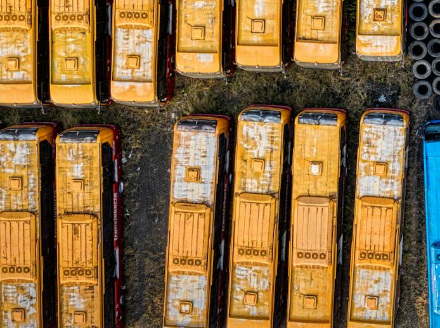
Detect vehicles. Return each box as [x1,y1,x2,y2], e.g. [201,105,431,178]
[288,102,348,328]
[176,0,236,86]
[49,0,114,116]
[0,120,64,328]
[346,102,410,328]
[56,120,128,328]
[354,0,406,71]
[235,0,294,79]
[292,0,350,78]
[164,109,233,328]
[227,101,292,328]
[0,0,54,116]
[419,120,440,328]
[112,0,177,115]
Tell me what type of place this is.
parking lot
